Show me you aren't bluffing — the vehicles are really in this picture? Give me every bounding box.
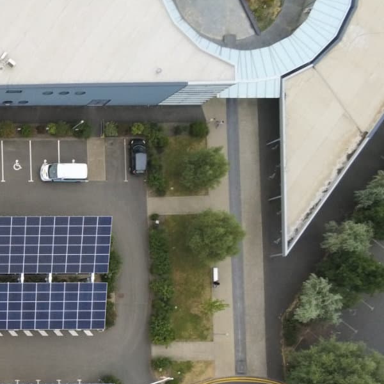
[128,139,149,175]
[40,162,89,182]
